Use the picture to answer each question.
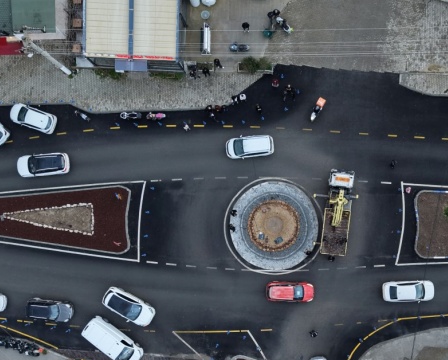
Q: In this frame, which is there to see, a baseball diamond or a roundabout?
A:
roundabout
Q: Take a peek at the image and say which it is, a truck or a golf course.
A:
truck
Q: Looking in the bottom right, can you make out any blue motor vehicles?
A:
No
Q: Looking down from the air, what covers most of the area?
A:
paved ground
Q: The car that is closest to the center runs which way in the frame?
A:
horizontally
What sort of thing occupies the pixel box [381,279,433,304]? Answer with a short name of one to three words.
car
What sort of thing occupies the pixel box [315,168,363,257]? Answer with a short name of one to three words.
truck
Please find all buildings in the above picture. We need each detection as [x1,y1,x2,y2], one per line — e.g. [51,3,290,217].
[81,0,182,75]
[0,0,68,44]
